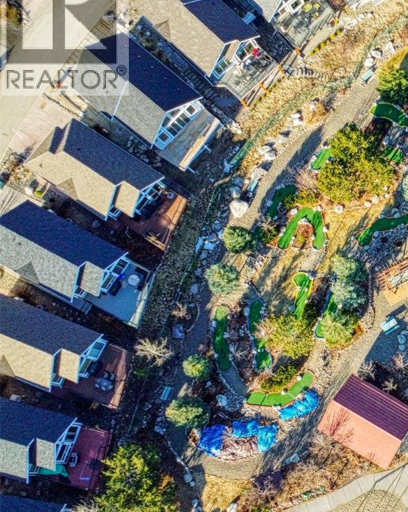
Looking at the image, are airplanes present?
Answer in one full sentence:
No, there appears to be no airplane in this shot.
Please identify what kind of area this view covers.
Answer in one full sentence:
This looks like a residential area.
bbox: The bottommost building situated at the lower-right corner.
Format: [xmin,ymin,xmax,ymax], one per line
[319,375,408,469]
